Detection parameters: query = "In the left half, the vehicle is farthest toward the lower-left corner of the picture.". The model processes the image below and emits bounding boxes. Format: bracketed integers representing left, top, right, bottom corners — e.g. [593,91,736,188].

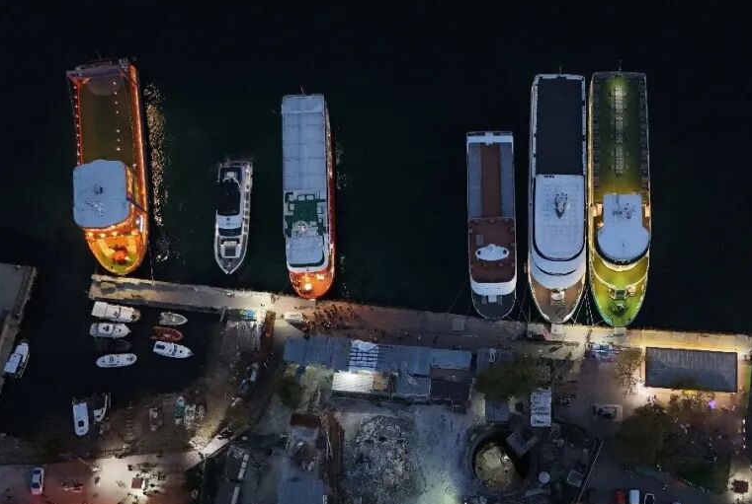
[28,469,45,494]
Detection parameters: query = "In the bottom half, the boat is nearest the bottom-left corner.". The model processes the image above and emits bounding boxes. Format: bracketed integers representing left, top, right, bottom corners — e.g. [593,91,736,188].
[68,398,90,435]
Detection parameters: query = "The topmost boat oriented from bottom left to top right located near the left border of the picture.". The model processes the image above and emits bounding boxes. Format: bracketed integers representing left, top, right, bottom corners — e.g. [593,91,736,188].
[0,344,30,379]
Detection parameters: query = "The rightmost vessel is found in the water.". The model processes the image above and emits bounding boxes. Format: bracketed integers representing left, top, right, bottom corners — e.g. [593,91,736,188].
[581,70,650,338]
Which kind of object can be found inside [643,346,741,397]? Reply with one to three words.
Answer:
building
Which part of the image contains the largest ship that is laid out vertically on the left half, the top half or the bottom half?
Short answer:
top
